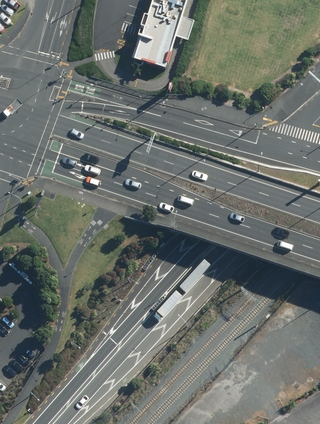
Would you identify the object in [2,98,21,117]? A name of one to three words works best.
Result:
vehicle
